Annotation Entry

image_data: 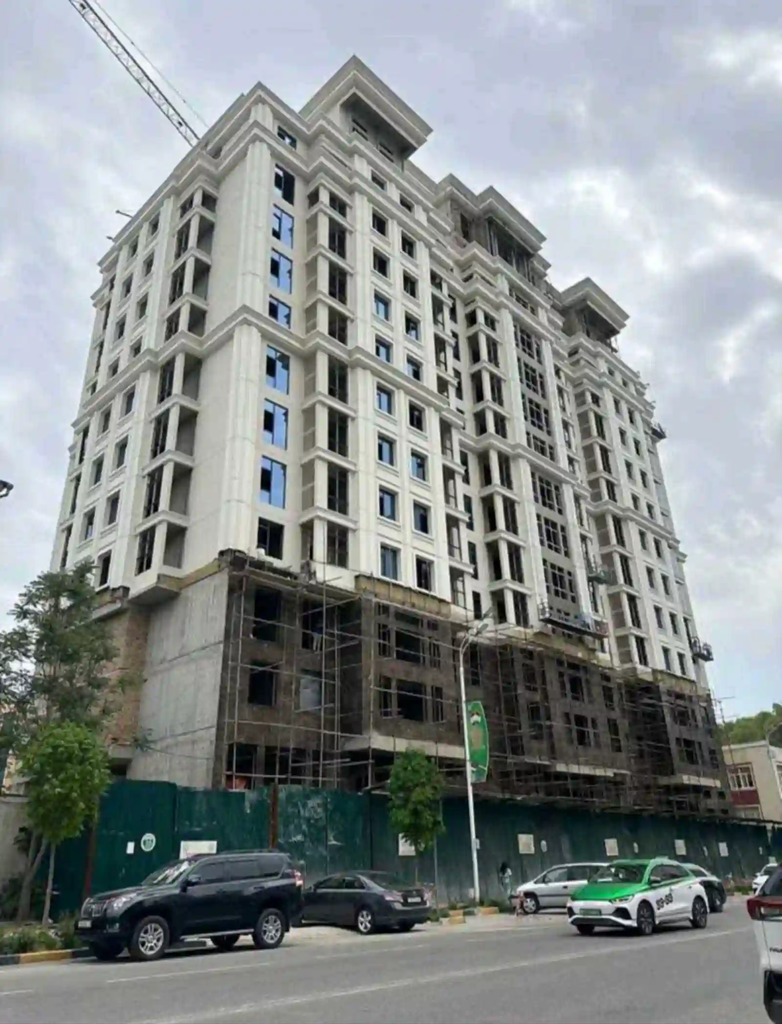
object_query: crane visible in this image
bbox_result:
[64,0,223,147]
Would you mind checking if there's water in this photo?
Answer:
No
